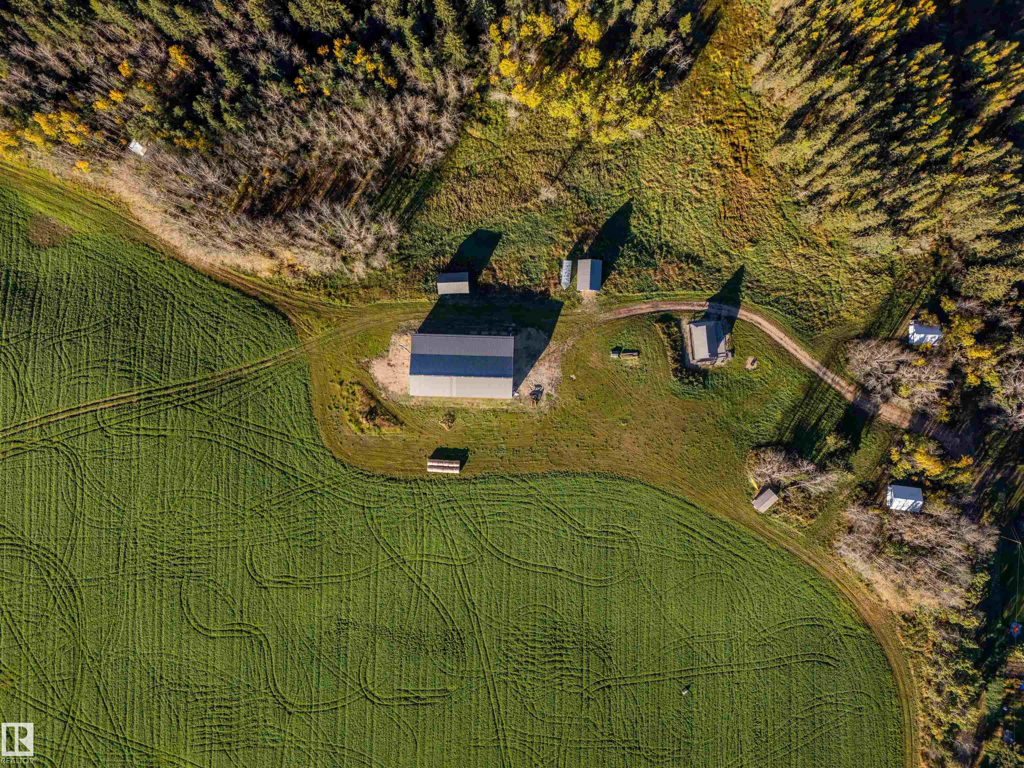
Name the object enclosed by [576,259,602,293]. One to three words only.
shed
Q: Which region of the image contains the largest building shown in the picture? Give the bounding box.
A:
[409,333,514,398]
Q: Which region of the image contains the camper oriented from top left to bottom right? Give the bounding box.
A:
[129,140,151,158]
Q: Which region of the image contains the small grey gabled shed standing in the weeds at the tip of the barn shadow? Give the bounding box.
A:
[437,272,469,294]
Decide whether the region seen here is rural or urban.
rural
